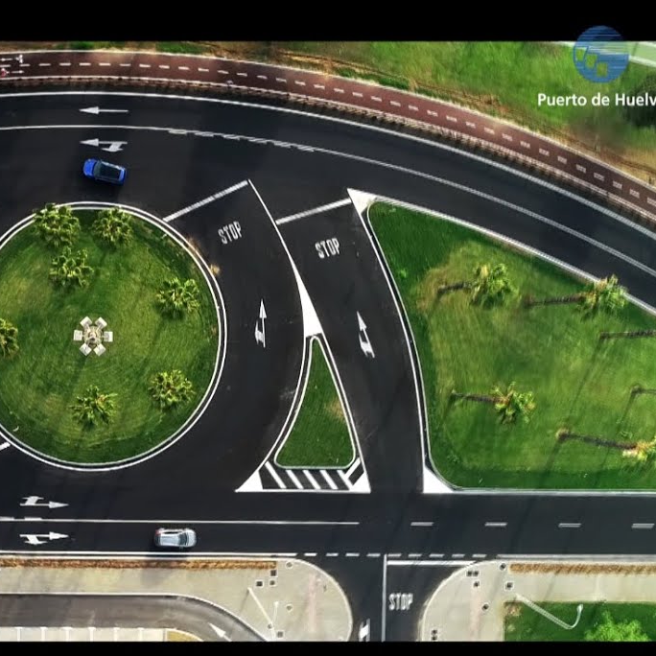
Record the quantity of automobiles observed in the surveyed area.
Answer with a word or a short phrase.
2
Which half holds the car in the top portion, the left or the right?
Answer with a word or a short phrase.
left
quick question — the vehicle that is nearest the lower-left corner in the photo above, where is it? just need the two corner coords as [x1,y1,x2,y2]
[154,526,194,549]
